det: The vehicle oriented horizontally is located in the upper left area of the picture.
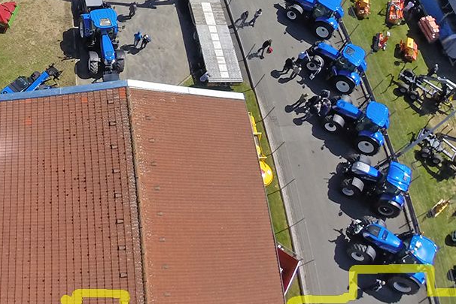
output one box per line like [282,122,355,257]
[2,58,90,93]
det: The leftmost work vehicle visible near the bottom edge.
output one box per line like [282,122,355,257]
[322,212,442,293]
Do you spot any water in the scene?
No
